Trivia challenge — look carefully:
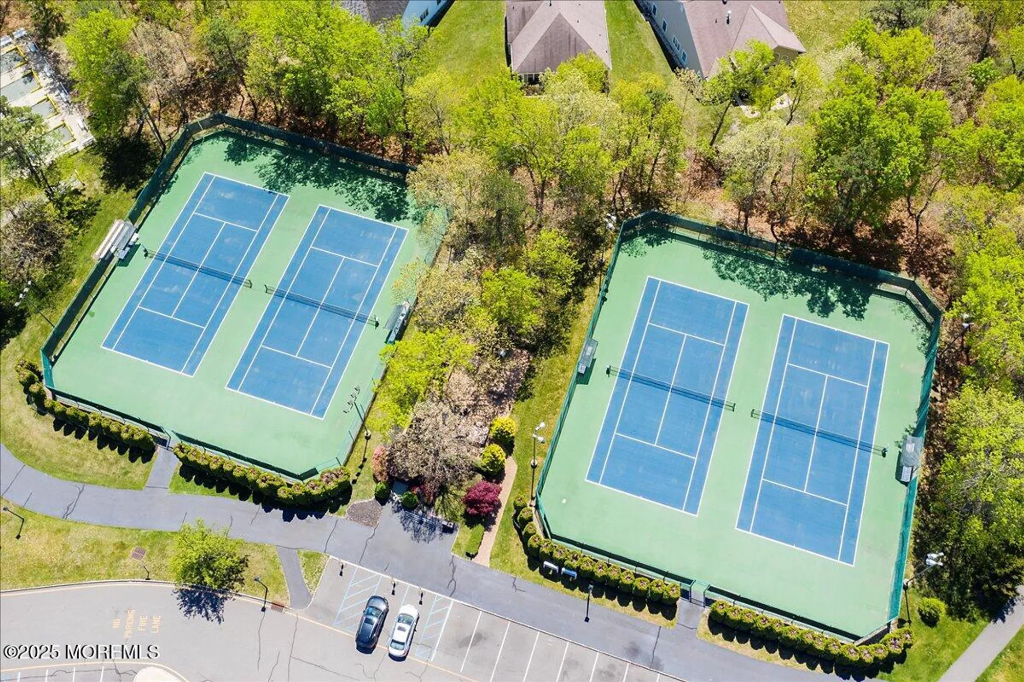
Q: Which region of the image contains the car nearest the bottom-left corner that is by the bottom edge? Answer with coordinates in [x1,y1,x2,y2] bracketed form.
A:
[356,596,386,650]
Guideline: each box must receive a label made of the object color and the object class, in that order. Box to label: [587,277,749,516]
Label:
blue tennis court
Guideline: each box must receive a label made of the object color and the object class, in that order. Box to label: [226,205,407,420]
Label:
blue tennis court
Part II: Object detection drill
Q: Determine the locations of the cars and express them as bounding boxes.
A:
[356,596,386,650]
[388,605,418,660]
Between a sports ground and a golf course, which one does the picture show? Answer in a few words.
sports ground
